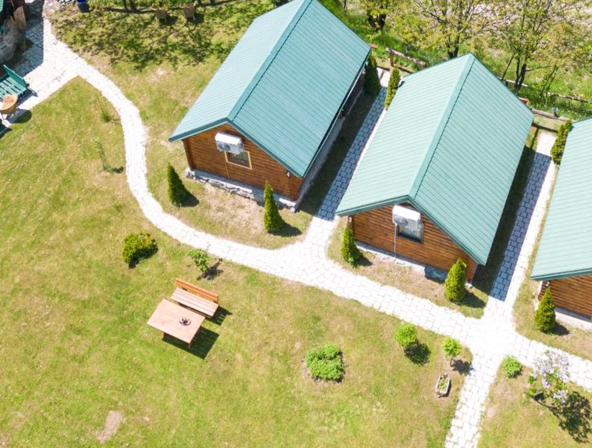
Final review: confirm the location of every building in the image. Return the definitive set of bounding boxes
[167,0,373,218]
[333,52,535,290]
[529,117,592,338]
